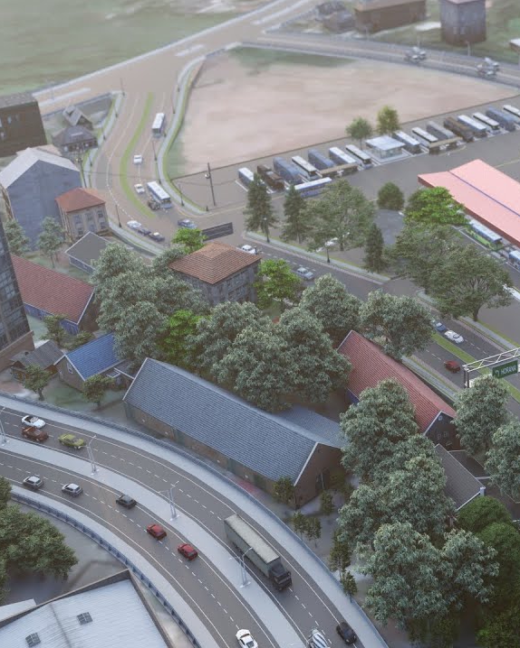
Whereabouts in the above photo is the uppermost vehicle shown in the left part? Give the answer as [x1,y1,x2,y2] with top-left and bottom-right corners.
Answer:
[151,115,167,139]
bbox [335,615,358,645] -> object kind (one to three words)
car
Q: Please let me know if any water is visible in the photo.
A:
No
